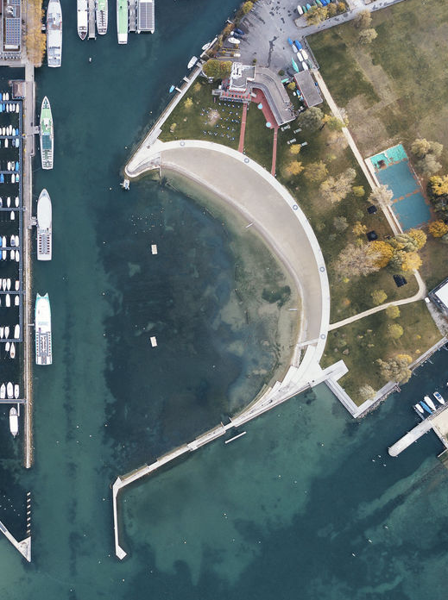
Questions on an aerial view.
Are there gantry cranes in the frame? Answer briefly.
No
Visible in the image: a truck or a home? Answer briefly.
home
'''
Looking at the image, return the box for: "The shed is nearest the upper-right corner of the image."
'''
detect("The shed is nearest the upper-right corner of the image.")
[293,71,323,107]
